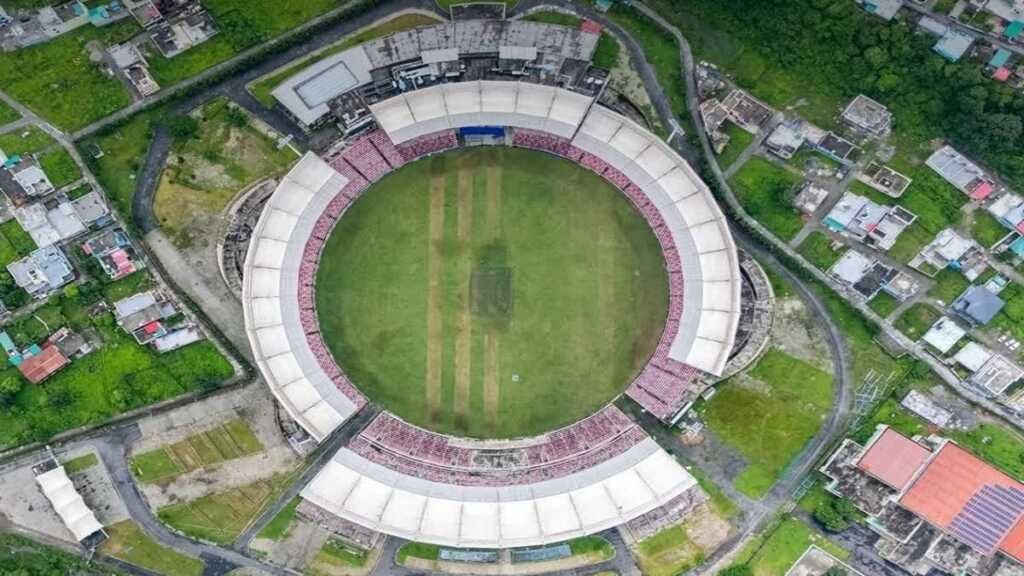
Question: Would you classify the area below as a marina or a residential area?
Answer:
residential area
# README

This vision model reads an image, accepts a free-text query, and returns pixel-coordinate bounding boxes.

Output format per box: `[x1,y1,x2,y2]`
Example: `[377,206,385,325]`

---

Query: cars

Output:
[1004,338,1014,347]
[19,130,30,139]
[935,298,946,307]
[105,66,114,76]
[1009,343,1019,352]
[997,334,1007,343]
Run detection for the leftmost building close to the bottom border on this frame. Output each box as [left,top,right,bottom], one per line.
[784,543,862,576]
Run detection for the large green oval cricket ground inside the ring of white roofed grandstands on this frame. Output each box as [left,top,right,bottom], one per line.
[316,146,668,438]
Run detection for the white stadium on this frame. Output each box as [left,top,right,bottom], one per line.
[217,72,774,549]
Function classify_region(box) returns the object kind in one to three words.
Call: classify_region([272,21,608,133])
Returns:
building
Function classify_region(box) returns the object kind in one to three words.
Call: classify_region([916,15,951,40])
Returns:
house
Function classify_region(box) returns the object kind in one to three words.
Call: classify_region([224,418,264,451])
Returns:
sports field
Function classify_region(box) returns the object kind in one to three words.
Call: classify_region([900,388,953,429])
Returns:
shed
